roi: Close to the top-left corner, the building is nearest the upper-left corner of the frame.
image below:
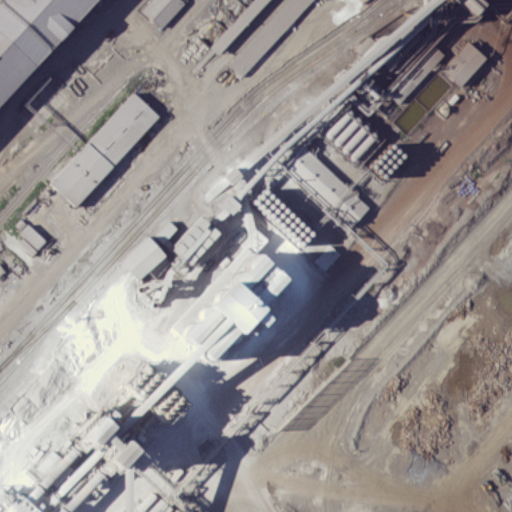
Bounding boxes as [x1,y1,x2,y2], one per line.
[0,0,100,108]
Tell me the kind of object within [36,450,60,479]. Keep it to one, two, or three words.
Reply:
building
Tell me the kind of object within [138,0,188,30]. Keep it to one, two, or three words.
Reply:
shed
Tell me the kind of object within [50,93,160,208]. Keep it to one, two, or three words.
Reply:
warehouse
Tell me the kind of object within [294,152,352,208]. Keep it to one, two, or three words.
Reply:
house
